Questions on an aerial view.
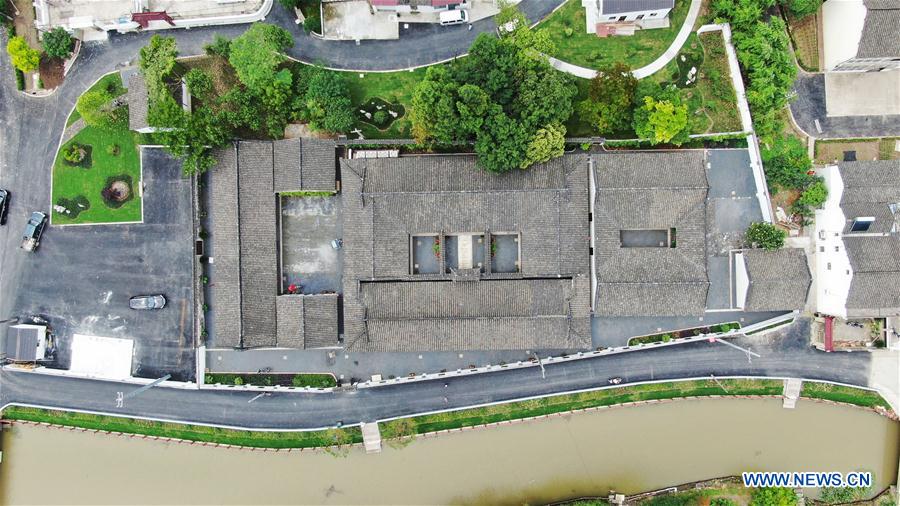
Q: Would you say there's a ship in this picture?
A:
No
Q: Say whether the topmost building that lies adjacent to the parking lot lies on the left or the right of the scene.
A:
left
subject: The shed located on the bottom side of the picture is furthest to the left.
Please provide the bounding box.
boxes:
[9,325,48,362]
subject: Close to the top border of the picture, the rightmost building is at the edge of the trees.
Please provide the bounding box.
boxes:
[824,0,900,71]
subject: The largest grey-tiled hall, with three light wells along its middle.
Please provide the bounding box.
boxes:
[340,156,590,352]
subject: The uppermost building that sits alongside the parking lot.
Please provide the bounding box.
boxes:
[127,70,168,136]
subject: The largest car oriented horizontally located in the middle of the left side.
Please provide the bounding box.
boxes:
[129,293,168,310]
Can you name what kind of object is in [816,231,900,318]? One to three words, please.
house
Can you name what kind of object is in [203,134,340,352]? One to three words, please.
house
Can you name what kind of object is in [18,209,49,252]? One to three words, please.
truck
